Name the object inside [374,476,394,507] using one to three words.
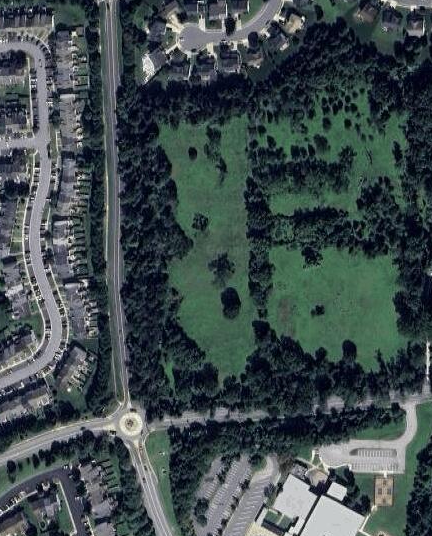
basketball court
